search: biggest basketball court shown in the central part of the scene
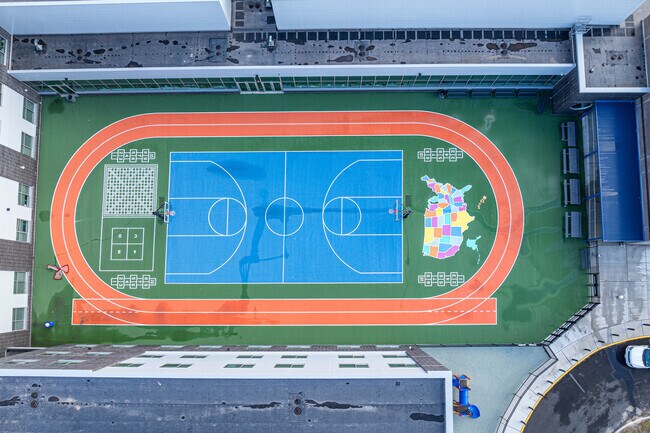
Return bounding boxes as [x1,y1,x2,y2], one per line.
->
[164,150,403,284]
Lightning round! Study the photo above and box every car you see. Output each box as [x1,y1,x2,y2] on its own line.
[623,345,650,370]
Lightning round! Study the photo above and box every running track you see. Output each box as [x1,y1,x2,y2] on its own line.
[50,110,524,325]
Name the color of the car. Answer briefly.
white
